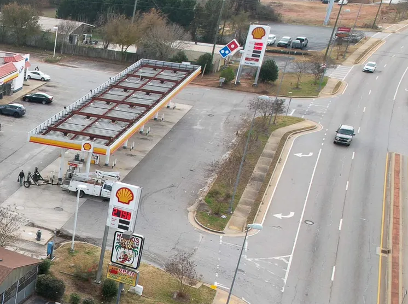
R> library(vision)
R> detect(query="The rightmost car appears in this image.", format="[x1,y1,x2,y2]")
[362,60,377,72]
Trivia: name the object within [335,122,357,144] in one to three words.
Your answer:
car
